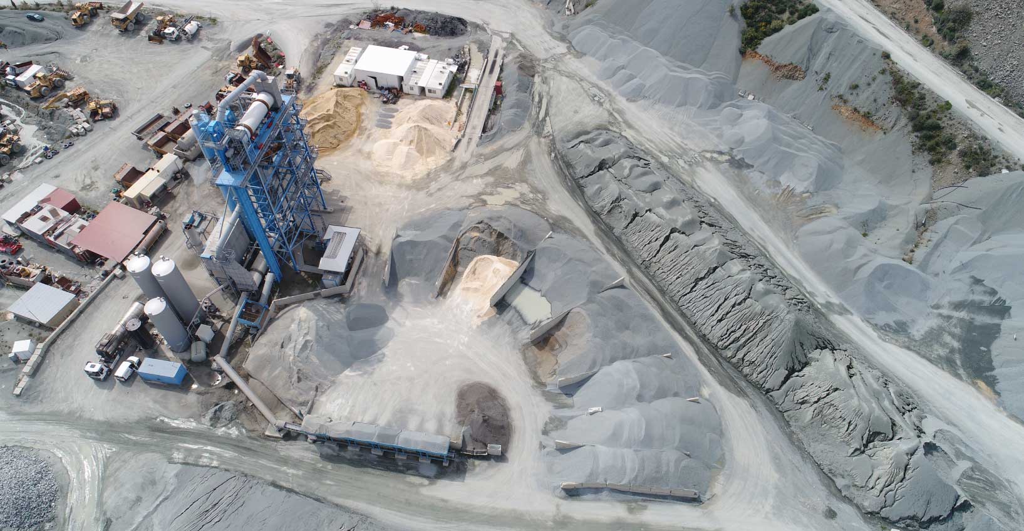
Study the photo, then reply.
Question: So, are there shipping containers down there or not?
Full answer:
Yes, there's a shipping container here.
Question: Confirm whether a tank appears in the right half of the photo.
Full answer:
No, I see no tank in the right half of the photo.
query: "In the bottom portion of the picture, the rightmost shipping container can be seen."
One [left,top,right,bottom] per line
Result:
[138,357,190,387]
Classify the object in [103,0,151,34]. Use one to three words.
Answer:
truck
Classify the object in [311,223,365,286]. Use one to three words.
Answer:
building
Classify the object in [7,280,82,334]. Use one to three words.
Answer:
shed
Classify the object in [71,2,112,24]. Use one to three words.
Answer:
work vehicle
